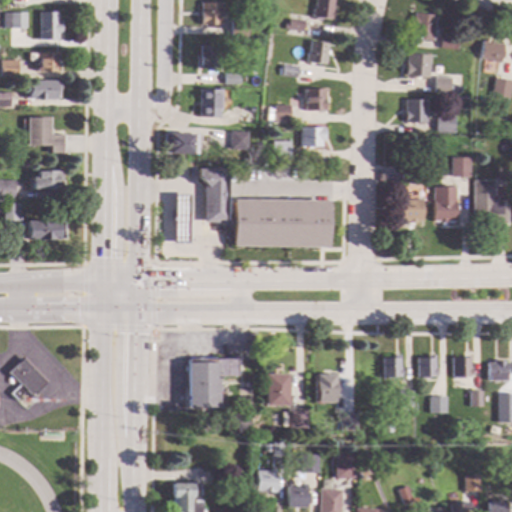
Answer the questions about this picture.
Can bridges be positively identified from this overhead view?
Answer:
No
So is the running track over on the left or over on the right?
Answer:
left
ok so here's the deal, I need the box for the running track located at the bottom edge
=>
[0,446,58,512]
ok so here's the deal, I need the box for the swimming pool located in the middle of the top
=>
[291,46,305,60]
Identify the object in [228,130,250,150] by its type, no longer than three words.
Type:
building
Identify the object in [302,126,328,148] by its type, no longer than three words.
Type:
house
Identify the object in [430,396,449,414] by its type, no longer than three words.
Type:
building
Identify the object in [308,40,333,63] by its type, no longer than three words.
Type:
house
